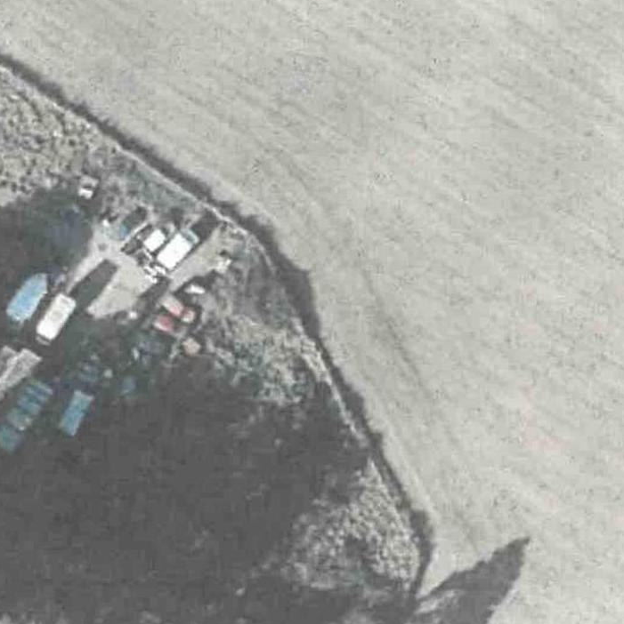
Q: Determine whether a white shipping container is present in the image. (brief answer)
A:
No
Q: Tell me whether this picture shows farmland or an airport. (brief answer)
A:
farmland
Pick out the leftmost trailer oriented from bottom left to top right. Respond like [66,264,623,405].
[0,346,45,398]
